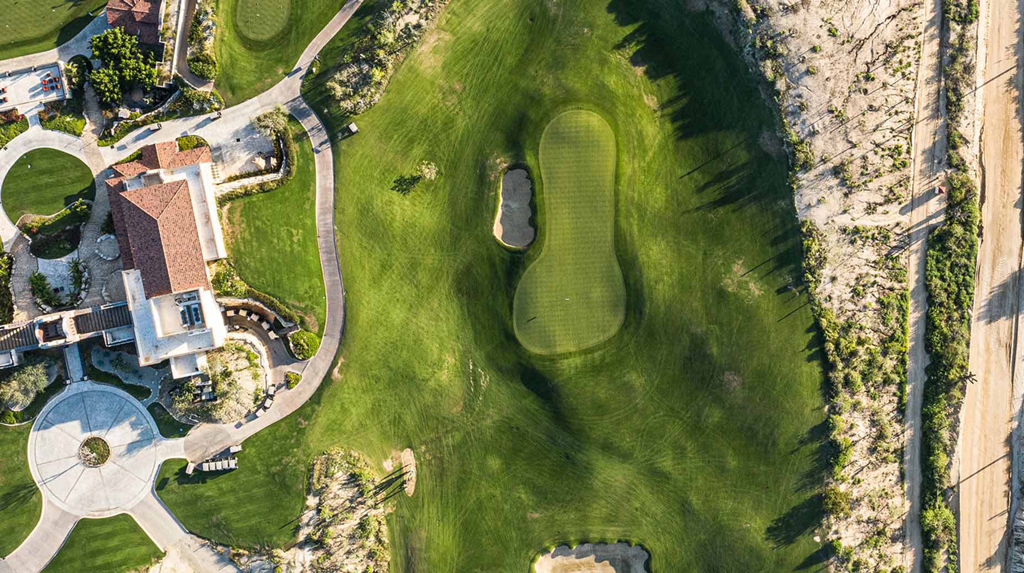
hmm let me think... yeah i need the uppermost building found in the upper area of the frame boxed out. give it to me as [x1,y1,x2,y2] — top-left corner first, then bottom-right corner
[106,0,167,48]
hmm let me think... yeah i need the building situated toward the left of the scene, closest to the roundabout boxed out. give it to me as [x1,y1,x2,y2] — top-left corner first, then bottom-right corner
[104,140,233,379]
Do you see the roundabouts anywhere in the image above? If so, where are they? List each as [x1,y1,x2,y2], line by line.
[28,379,187,519]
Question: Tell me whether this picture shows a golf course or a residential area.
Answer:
golf course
